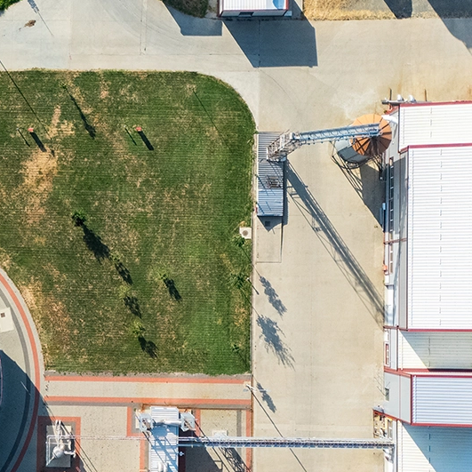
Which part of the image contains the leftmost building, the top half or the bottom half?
bottom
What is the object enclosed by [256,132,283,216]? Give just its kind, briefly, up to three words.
shed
